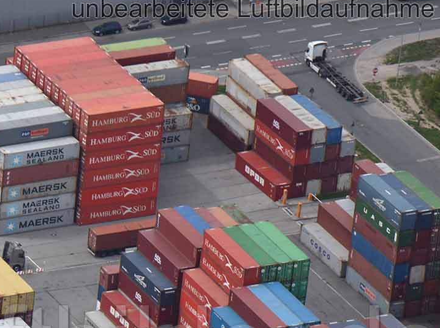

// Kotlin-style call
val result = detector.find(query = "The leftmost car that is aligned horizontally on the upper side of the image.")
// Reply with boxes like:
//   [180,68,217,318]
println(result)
[92,18,123,33]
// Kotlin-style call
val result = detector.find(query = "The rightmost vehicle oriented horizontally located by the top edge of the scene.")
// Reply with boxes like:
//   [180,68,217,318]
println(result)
[160,10,191,24]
